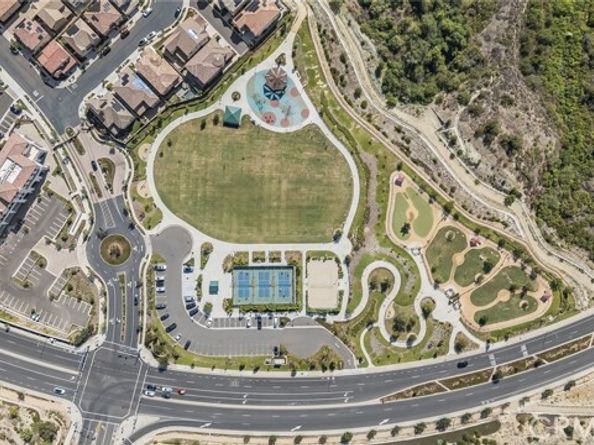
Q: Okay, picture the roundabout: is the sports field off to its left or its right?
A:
right of it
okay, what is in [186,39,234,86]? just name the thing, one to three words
house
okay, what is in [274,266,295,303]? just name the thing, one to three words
sports court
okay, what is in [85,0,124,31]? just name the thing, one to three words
house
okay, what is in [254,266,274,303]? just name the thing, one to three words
sports court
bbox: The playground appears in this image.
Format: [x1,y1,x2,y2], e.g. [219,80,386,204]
[247,68,309,128]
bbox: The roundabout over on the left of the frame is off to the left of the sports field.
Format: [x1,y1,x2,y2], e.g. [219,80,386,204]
[99,234,131,266]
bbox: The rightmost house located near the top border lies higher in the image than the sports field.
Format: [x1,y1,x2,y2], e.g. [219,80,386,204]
[235,0,280,34]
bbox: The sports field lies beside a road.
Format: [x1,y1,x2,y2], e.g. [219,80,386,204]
[154,110,354,245]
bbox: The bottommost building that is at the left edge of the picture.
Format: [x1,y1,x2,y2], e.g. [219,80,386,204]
[0,132,54,241]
